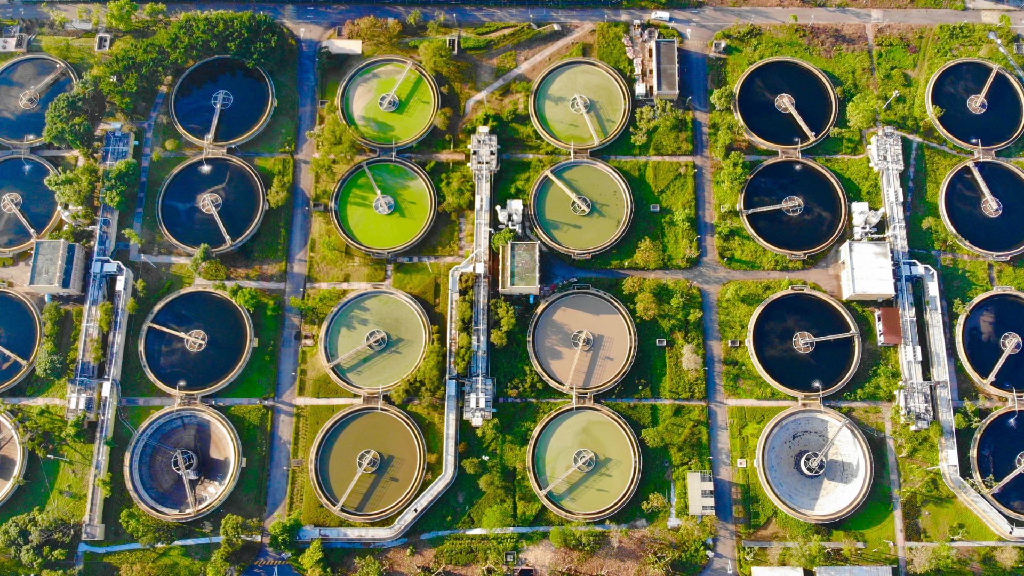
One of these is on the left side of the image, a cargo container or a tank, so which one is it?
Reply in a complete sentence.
The feature located on the left side of the image is a tank.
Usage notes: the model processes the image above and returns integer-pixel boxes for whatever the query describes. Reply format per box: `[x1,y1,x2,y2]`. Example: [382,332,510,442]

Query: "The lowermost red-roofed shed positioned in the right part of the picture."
[872,308,903,347]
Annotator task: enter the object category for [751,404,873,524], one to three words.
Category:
storage tank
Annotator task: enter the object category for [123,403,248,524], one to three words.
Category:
storage tank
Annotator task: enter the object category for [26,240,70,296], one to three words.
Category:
building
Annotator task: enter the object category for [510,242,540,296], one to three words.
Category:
building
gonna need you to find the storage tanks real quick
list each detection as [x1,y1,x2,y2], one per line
[732,57,838,155]
[0,151,66,261]
[742,284,861,400]
[309,402,427,523]
[527,157,635,265]
[967,404,1024,523]
[526,402,643,521]
[922,58,1024,153]
[0,403,29,502]
[735,155,848,265]
[170,56,280,152]
[936,156,1024,266]
[139,283,259,401]
[0,279,47,392]
[329,154,438,265]
[123,403,248,524]
[319,282,432,397]
[157,152,268,261]
[952,286,1024,401]
[526,282,639,397]
[336,55,440,150]
[528,58,632,153]
[751,404,873,524]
